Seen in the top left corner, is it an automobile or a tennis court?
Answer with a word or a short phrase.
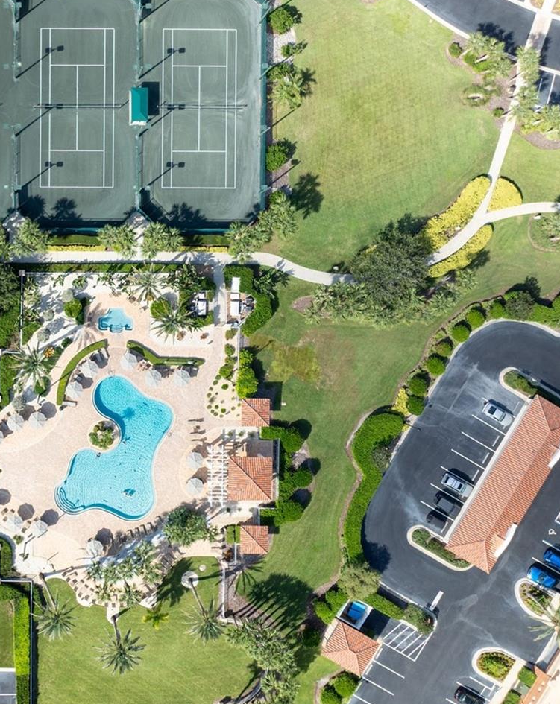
tennis court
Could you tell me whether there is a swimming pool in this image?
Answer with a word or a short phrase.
Yes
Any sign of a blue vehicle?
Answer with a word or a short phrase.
Yes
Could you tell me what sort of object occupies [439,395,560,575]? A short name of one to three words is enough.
building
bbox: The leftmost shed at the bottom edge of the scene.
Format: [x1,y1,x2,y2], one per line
[319,614,382,677]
